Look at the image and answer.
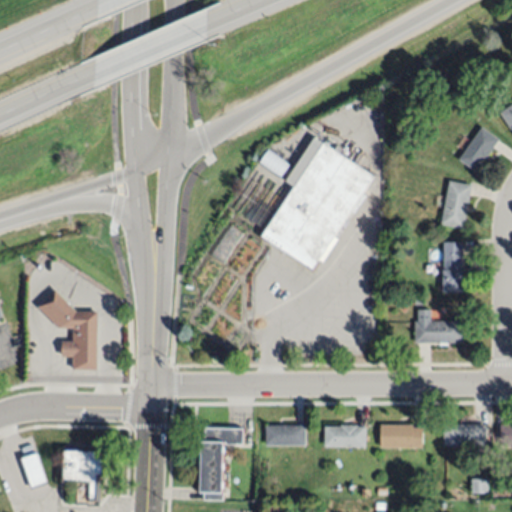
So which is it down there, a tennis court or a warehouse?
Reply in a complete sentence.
This aerial view contains a warehouse.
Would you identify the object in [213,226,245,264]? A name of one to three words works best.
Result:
greenhouse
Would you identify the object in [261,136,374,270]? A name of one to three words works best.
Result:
warehouse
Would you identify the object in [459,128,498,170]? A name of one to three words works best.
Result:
house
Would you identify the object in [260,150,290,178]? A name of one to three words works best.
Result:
shed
